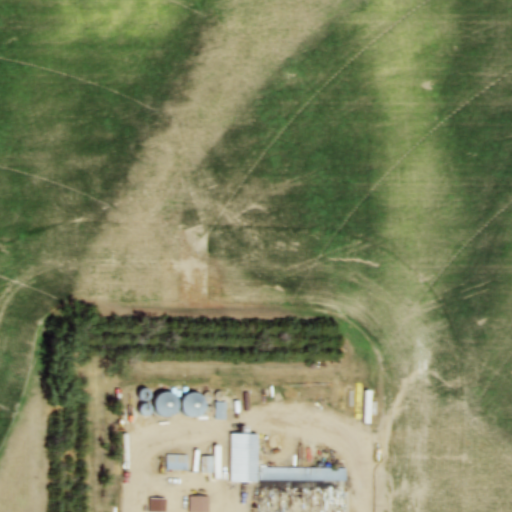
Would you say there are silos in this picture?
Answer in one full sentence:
Yes, the picture does show a silo.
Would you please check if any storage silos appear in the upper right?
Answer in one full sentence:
No, there's no storage silo to be seen in the upper right.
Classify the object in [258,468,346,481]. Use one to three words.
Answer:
shed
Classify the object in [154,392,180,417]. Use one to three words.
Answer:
silo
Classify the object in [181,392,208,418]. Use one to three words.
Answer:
silo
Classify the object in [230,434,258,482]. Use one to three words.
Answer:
shed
